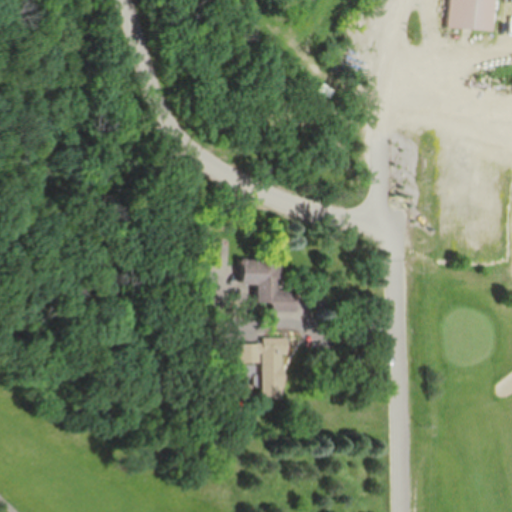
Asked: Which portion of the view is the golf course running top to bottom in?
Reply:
bottom right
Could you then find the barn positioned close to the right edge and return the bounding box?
[448,0,496,30]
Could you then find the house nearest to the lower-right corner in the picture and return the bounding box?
[244,337,288,397]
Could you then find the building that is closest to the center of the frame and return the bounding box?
[244,258,299,313]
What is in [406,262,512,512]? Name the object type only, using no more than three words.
golf course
